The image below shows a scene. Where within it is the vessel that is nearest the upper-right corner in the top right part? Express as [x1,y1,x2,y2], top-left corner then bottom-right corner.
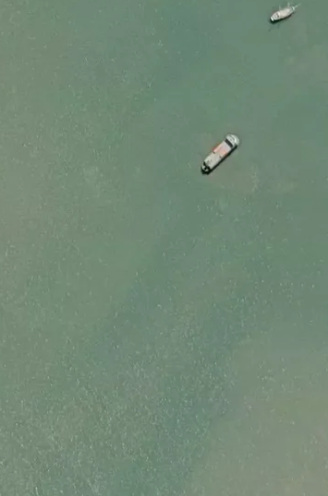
[271,4,293,22]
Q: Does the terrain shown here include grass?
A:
No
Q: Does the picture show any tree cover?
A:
No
